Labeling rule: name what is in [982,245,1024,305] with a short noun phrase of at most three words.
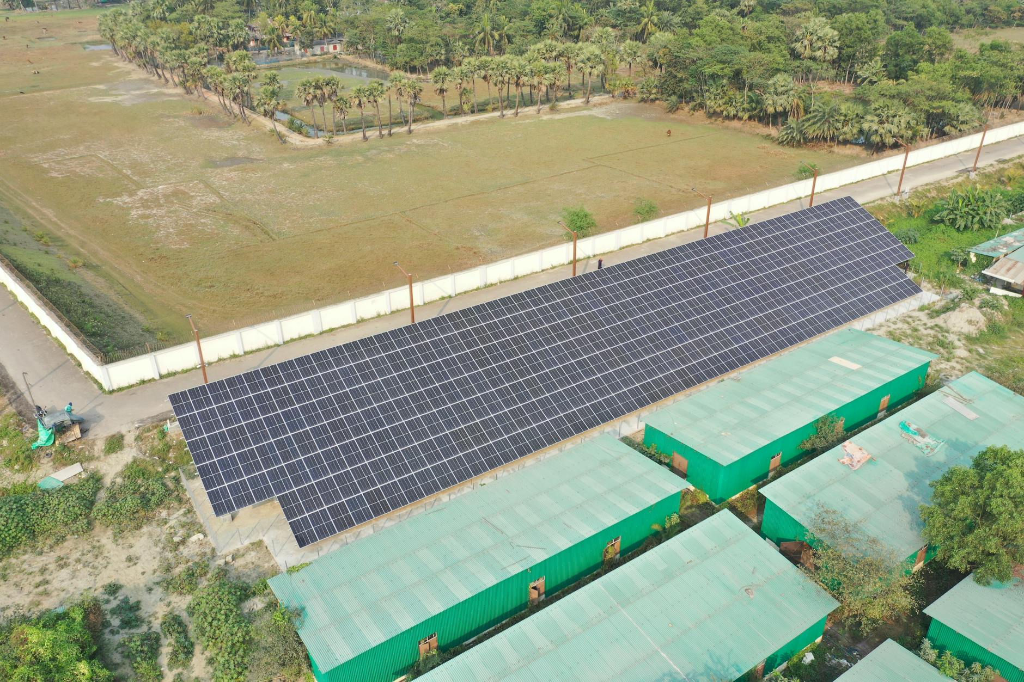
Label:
shed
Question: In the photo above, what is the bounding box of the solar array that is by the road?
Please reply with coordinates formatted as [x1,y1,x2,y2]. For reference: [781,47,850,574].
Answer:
[167,196,923,550]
